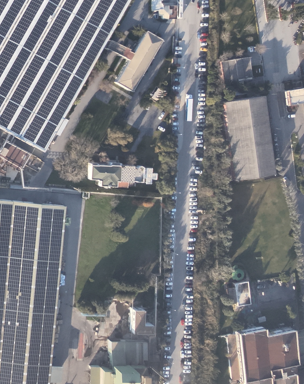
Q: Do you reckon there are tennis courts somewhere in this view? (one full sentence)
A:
No, I can't see a single tennis court in this photo.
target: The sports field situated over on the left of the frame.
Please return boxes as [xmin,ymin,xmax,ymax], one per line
[78,197,161,299]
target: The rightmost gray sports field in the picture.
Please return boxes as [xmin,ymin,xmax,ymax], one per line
[232,177,302,281]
